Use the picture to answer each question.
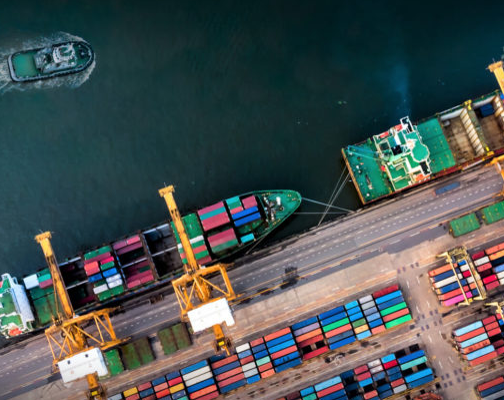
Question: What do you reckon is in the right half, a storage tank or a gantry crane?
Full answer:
There is a gantry crane in the right half.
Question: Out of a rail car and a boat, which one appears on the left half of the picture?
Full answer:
It is a boat that can be seen on the left half of the picture.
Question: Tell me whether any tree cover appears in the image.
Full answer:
No, no tree cover is visible.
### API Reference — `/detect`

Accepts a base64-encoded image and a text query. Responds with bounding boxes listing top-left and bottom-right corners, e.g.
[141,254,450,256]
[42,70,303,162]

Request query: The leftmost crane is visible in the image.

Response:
[35,229,140,400]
